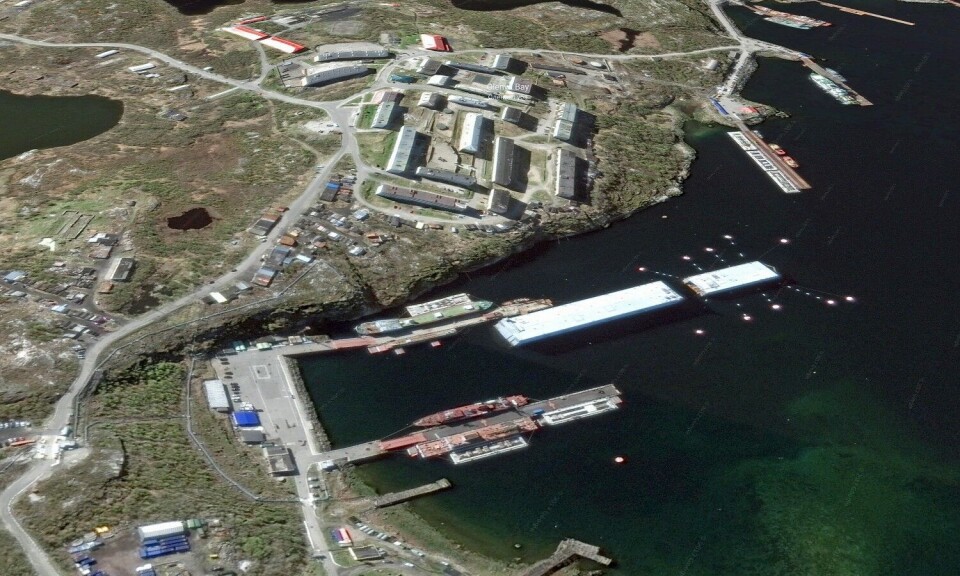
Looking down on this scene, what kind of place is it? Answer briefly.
port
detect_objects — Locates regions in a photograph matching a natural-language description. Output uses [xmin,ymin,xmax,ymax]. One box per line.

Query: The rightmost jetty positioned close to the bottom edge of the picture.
[523,538,611,576]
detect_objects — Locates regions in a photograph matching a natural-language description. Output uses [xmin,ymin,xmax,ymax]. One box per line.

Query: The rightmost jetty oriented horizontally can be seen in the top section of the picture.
[820,0,914,26]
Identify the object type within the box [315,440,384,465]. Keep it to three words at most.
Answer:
pier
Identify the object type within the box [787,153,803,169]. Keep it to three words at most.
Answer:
boat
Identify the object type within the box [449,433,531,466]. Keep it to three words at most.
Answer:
ship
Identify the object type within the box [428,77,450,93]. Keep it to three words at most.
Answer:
building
